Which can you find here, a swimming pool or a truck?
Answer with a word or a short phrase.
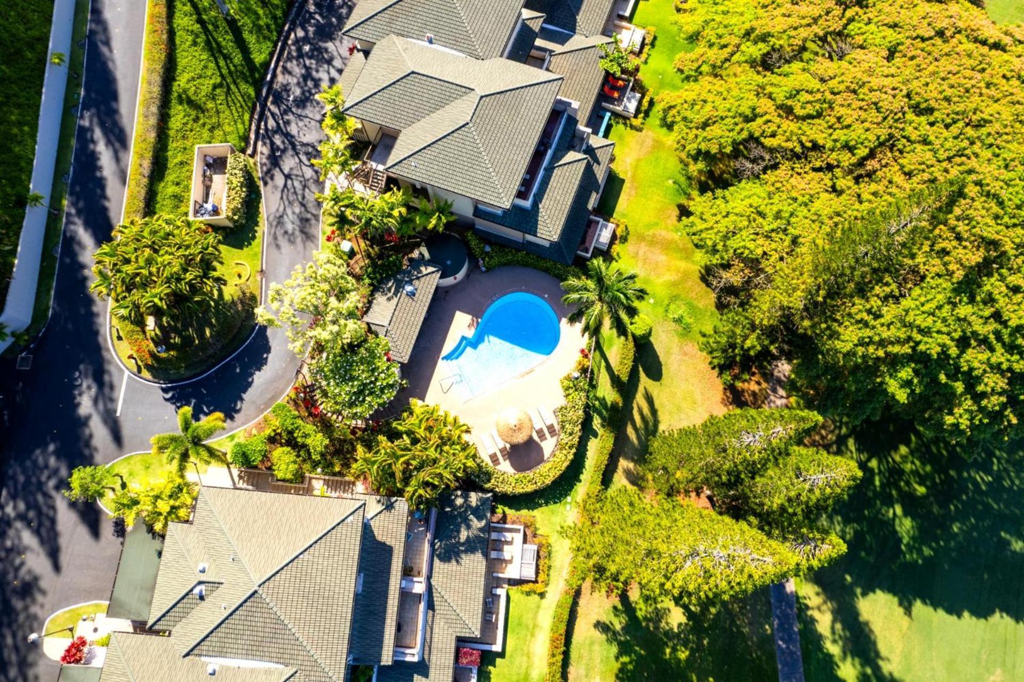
swimming pool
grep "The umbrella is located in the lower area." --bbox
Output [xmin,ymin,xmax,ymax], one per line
[494,405,534,445]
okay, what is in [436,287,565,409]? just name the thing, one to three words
swimming pool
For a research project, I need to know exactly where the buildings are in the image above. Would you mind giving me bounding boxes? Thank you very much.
[325,31,616,269]
[99,484,494,682]
[362,256,443,365]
